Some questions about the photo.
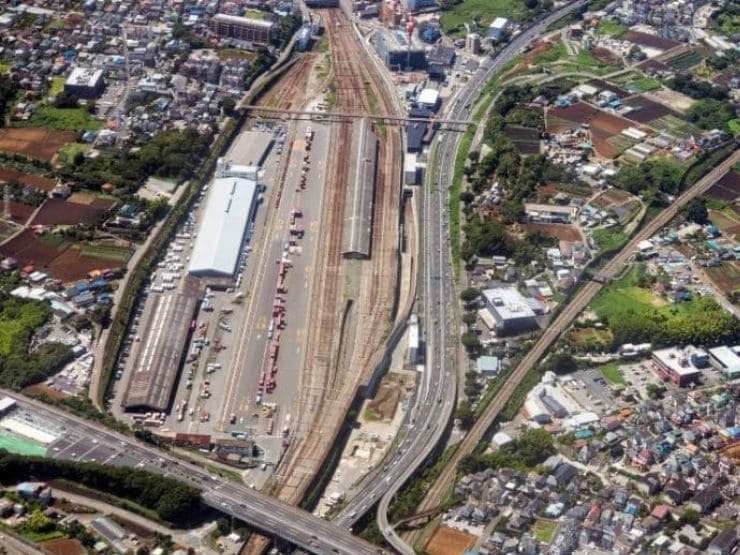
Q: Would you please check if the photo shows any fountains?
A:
No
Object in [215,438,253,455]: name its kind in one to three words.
building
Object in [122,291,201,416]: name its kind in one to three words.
shed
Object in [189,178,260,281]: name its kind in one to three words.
shed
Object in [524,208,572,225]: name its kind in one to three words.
building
